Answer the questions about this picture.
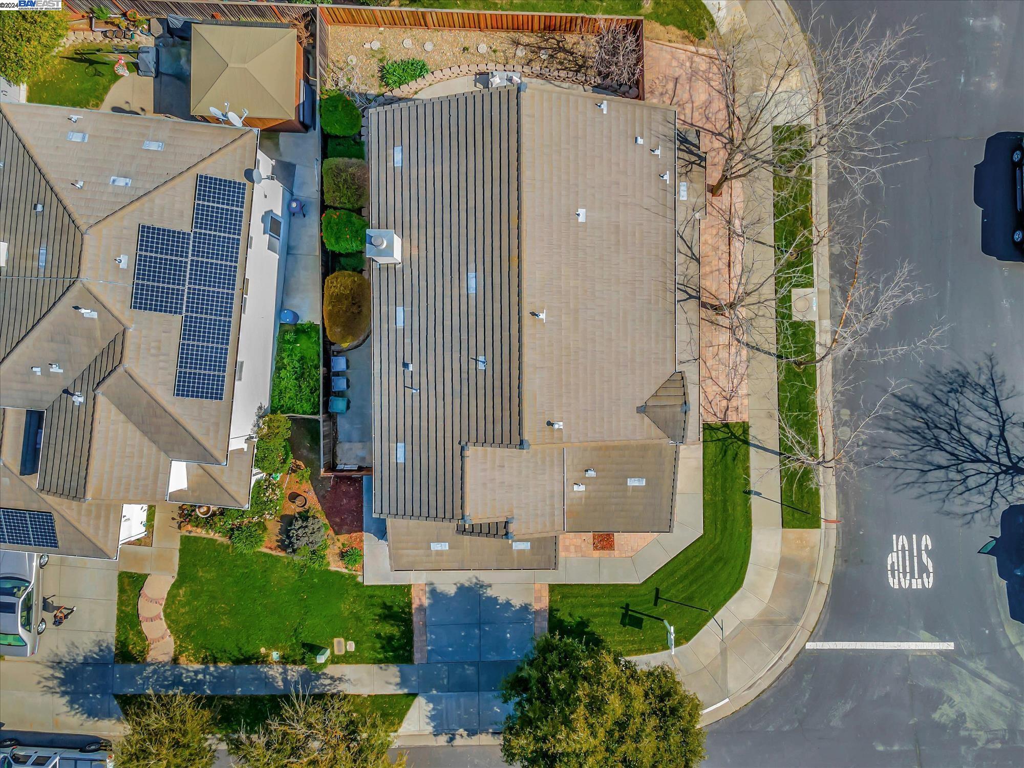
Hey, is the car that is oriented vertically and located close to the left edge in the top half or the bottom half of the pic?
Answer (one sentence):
The car that is oriented vertically and located close to the left edge sits in the bottom half of the picture.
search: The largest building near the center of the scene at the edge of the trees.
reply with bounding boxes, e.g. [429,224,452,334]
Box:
[365,82,709,572]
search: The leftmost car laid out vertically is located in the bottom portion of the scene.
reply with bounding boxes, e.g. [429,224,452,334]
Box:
[0,553,47,659]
